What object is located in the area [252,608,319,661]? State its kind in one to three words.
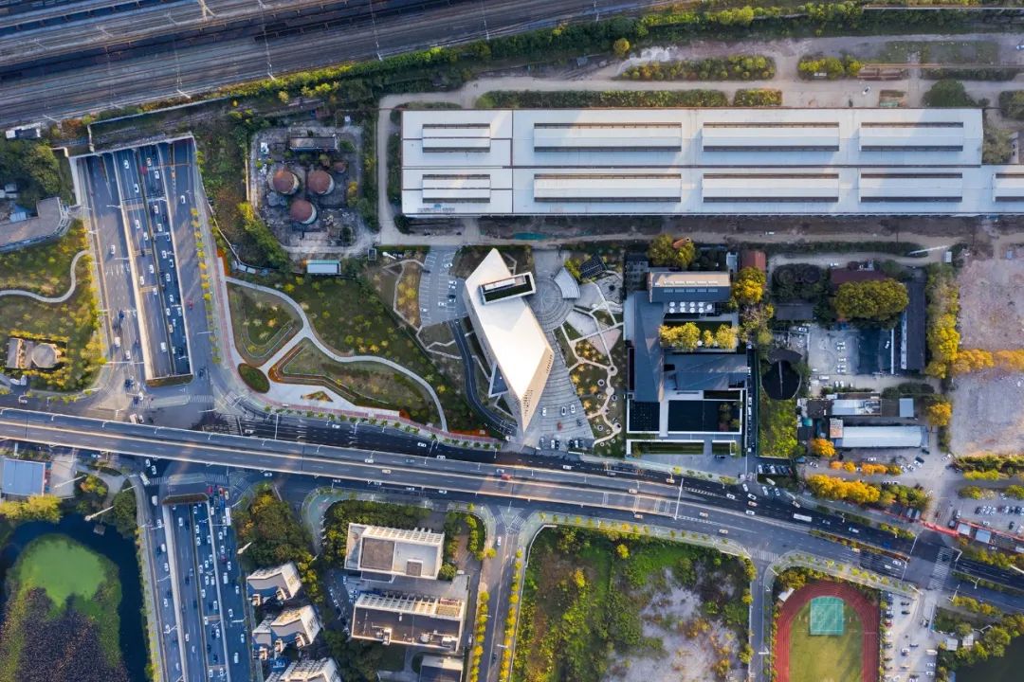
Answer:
building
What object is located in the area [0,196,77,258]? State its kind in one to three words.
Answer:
building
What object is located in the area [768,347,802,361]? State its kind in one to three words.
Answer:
shed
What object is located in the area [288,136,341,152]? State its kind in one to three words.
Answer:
shed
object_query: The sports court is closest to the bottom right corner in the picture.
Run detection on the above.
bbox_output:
[811,598,844,636]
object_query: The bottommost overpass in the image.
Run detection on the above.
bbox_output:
[0,408,679,519]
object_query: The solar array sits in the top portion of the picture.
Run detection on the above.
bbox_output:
[579,254,607,279]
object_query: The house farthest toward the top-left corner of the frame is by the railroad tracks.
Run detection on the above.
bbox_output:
[5,127,44,142]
